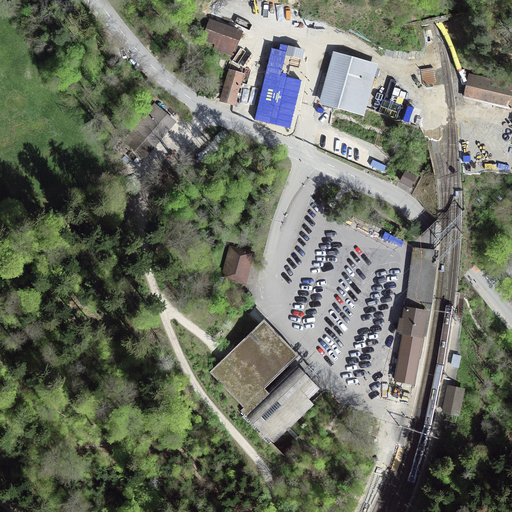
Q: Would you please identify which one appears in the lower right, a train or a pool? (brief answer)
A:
train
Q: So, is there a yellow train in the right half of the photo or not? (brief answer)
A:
Yes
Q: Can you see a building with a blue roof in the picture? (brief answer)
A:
Yes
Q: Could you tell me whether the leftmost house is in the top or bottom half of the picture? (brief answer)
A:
top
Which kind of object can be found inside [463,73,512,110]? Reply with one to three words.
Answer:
shed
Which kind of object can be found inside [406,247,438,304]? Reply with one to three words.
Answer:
building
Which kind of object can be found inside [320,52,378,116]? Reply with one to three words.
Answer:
building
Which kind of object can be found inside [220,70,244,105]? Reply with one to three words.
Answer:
house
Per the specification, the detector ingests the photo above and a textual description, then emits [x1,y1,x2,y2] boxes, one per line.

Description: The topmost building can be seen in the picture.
[205,19,242,56]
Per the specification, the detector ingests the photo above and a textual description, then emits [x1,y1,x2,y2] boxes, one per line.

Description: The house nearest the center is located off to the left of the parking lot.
[222,244,252,284]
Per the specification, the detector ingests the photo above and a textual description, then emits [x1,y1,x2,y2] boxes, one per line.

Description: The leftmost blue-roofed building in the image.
[256,44,304,128]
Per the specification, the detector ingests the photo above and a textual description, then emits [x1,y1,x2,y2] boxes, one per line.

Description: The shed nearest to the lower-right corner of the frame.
[443,386,464,416]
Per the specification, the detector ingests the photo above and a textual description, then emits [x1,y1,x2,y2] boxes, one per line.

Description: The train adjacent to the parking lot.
[408,304,454,482]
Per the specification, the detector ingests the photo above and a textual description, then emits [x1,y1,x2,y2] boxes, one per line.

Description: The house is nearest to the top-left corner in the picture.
[124,104,176,158]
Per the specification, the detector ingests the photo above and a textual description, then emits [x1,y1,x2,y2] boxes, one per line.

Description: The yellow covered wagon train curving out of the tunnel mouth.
[437,22,467,85]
